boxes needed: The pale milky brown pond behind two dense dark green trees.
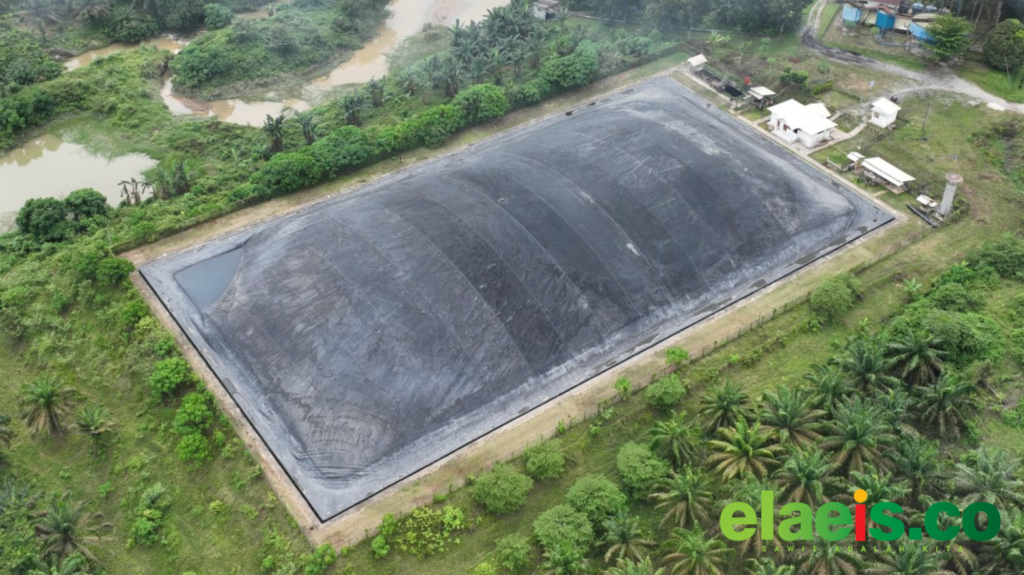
[0,135,152,238]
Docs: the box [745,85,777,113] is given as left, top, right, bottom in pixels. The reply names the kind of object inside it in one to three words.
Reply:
shed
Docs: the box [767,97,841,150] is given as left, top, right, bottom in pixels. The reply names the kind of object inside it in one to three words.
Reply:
house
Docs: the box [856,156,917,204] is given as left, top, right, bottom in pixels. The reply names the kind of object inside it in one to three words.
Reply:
shed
